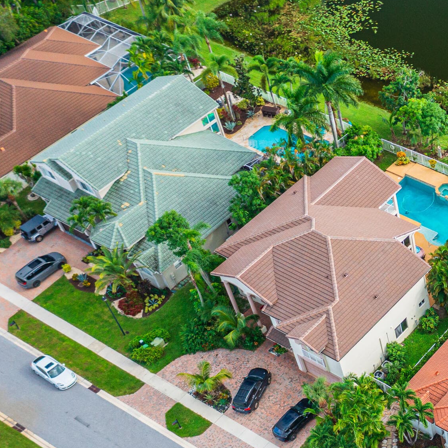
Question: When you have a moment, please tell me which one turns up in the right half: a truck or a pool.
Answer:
pool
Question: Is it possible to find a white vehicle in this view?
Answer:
Yes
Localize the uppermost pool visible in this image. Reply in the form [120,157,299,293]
[246,123,334,160]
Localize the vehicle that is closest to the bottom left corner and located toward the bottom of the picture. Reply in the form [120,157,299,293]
[28,357,81,393]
